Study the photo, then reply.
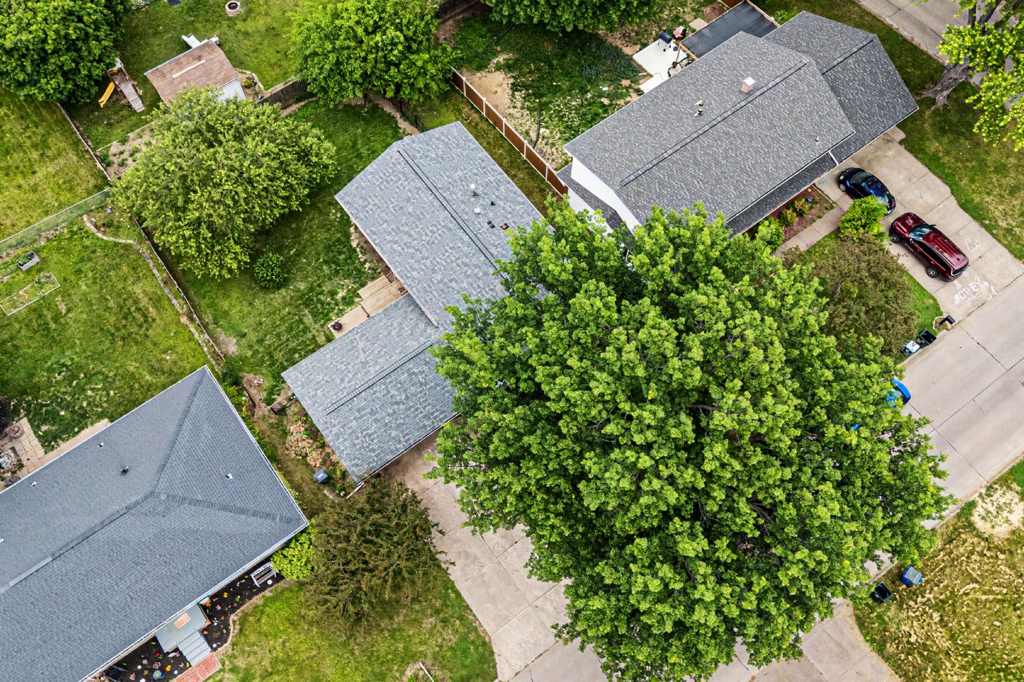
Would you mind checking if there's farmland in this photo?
No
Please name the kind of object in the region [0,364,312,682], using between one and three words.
house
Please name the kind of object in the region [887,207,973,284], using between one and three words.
car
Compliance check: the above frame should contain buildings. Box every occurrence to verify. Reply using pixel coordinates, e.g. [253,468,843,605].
[146,39,249,128]
[0,364,312,682]
[282,120,590,486]
[552,7,921,248]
